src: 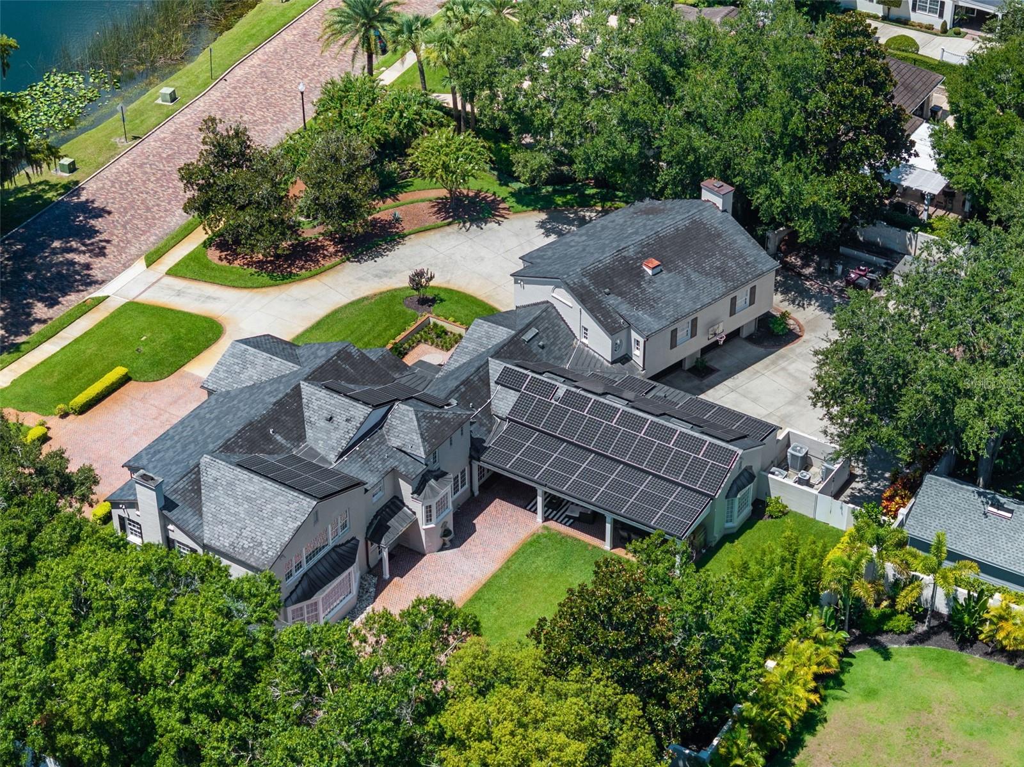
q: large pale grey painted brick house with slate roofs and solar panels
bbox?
[102,177,784,642]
